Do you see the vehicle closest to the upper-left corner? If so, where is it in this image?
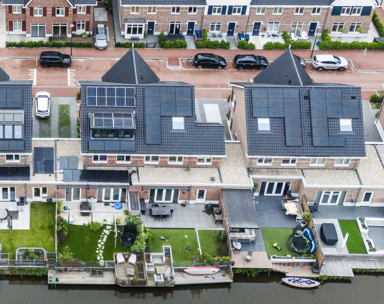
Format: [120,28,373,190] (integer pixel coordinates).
[39,50,73,67]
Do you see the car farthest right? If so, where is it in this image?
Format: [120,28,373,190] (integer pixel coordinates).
[311,53,349,70]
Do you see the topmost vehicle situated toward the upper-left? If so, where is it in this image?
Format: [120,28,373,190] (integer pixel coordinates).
[94,26,109,49]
